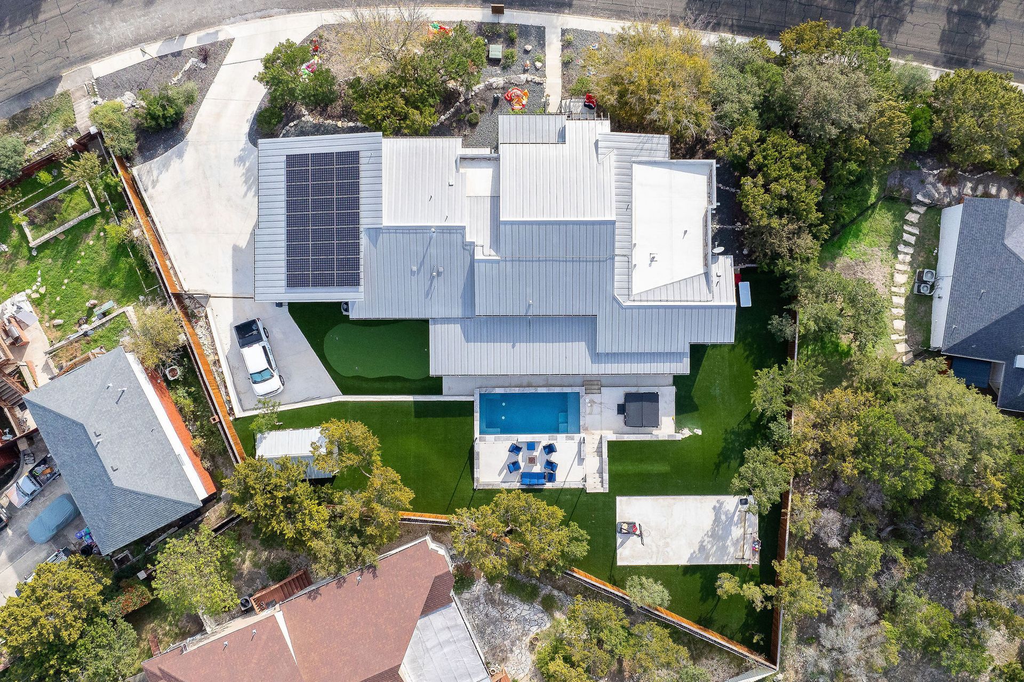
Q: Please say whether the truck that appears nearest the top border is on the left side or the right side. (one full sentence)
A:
The truck that appears nearest the top border sits on the left side.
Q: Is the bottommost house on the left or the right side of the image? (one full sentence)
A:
The bottommost house is on the left side of the image.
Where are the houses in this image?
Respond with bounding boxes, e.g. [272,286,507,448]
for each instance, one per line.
[918,197,1024,413]
[252,109,737,377]
[141,530,492,682]
[23,346,222,556]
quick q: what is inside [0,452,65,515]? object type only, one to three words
truck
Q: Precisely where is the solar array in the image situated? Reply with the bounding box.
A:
[286,152,360,289]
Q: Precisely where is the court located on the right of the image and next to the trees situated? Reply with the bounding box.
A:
[617,496,758,566]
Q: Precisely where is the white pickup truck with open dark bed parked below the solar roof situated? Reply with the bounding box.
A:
[232,315,286,400]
